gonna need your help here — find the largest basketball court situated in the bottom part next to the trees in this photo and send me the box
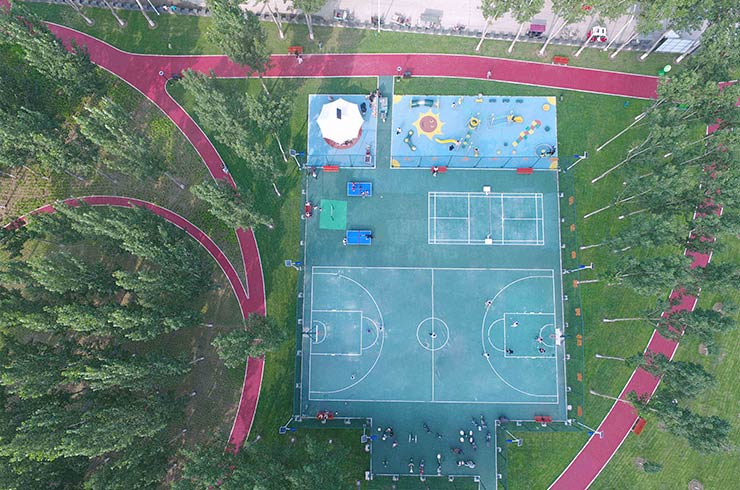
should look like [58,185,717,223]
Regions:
[309,267,558,403]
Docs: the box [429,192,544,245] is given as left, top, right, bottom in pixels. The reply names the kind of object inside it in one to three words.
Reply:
sports court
